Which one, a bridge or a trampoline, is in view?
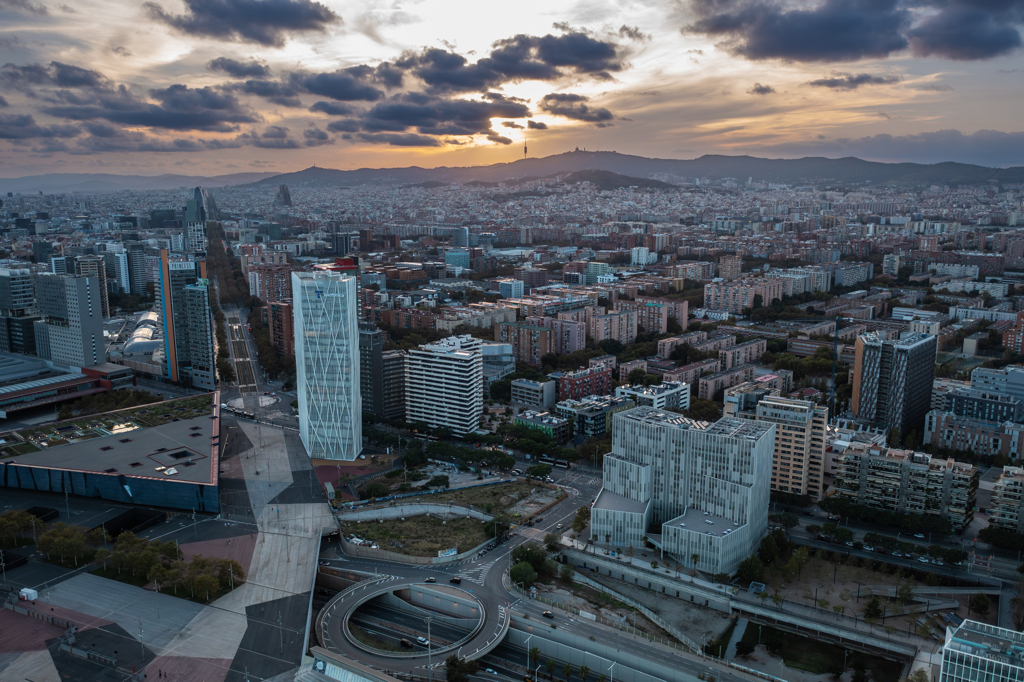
bridge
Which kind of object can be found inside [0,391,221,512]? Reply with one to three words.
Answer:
building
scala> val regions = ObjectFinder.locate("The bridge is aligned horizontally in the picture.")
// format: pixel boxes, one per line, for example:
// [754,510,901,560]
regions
[730,582,936,656]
